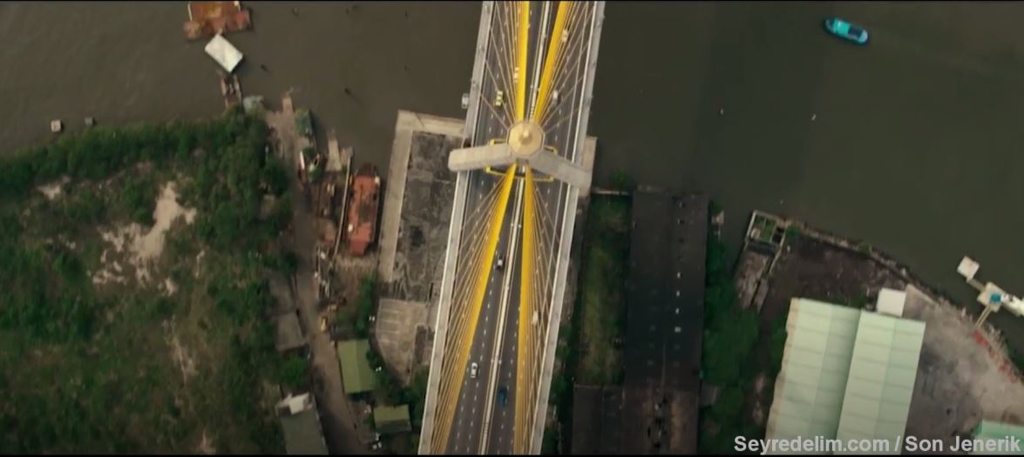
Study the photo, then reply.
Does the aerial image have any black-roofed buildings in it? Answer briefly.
Yes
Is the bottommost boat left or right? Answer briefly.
right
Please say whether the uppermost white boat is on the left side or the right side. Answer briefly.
left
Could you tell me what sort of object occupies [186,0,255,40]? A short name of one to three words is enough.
ship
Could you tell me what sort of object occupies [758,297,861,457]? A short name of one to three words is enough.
shed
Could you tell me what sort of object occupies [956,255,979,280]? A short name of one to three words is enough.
pier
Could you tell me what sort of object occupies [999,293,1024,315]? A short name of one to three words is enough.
boat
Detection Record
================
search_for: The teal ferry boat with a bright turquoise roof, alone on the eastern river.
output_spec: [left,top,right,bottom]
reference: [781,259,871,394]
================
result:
[825,17,870,45]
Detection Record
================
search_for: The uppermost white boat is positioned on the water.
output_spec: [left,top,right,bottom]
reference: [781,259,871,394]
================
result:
[206,36,244,71]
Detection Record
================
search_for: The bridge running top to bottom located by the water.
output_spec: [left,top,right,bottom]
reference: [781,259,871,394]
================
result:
[418,0,605,457]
